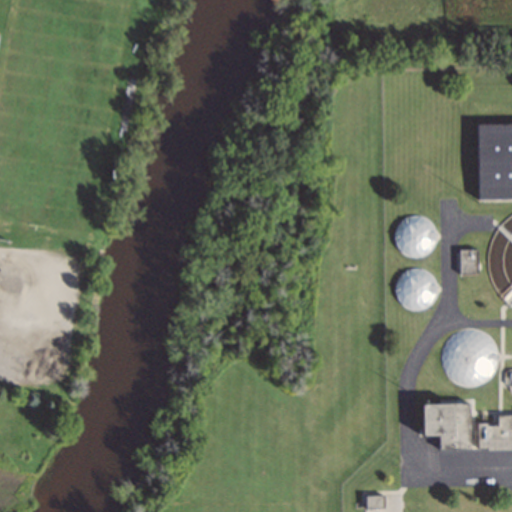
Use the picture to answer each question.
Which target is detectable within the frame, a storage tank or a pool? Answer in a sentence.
Of the two, only a storage tank appears.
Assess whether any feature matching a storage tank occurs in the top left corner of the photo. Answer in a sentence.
No, there's no storage tank to be seen in the top left corner of the photo.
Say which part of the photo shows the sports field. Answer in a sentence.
Look in the top left portion of the view to spot the sports field.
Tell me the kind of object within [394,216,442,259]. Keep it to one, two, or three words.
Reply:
storage tank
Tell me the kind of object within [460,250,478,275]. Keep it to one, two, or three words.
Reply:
building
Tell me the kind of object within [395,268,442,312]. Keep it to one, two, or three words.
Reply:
storage tank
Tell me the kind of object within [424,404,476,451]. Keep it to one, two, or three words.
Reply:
building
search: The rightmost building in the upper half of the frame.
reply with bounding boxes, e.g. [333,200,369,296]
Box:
[480,124,512,204]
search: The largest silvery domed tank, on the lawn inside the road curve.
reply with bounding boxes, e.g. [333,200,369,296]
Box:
[440,328,500,388]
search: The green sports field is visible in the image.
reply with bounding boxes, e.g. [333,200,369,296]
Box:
[0,0,129,232]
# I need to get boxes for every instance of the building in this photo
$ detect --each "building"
[460,250,478,275]
[480,124,512,204]
[367,496,385,508]
[479,416,512,450]
[472,421,478,447]
[424,404,476,451]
